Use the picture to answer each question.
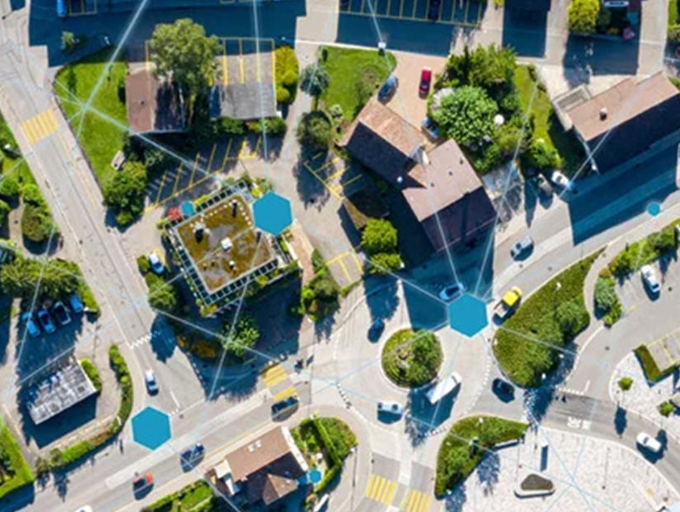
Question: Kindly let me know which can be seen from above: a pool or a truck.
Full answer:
I can see a truck in this picture.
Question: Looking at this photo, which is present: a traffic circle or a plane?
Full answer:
There is a traffic circle in the scene.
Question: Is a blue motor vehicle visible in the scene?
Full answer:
Yes, a blue motor vehicle can be made out from above.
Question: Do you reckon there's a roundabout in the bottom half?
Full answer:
Yes, the scene does show a roundabout in the bottom half.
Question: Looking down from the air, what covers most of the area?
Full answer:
What you mostly see from above here is paved ground.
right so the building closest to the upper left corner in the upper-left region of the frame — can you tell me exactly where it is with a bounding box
[127,71,186,135]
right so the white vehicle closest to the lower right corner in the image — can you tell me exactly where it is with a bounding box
[637,434,660,451]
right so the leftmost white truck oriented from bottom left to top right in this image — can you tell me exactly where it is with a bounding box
[425,371,462,405]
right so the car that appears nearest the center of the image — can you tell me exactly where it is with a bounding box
[369,320,382,340]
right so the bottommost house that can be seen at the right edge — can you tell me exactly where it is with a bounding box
[551,73,680,175]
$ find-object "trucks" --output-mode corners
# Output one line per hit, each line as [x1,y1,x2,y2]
[425,371,462,405]
[492,288,521,318]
